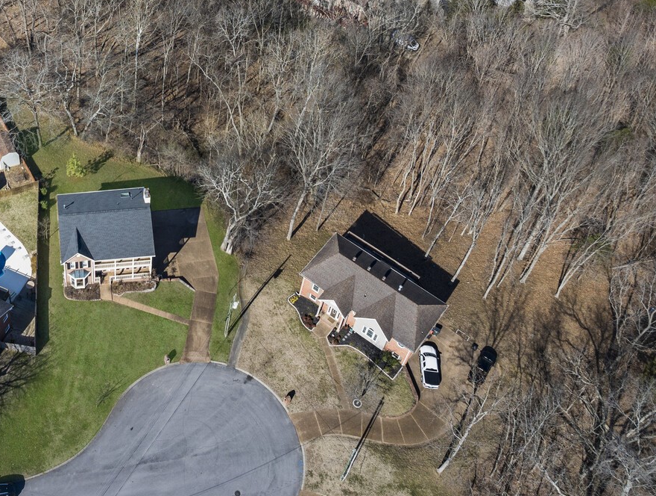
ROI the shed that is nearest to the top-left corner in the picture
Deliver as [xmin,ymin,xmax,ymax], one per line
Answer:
[0,128,20,170]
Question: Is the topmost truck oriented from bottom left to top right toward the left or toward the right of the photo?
right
